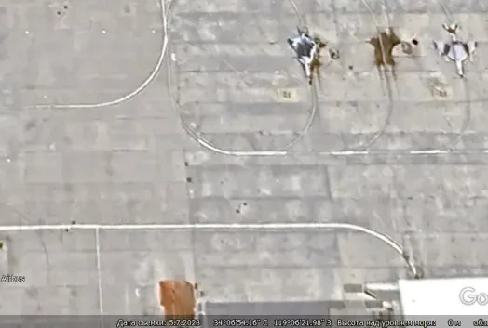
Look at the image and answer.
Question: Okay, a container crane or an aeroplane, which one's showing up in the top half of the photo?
aeroplane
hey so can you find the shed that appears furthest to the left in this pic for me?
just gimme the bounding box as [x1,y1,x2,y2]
[157,283,197,328]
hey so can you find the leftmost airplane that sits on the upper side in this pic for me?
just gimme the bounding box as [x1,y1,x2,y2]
[283,26,328,80]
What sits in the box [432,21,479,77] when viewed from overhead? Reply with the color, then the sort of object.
white airplane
